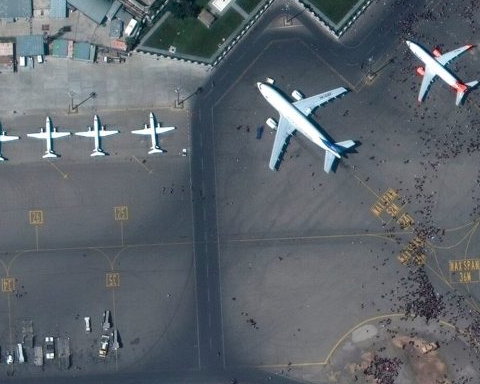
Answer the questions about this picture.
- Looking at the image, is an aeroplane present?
Yes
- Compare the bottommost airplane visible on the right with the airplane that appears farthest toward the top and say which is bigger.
the bottommost airplane visible on the right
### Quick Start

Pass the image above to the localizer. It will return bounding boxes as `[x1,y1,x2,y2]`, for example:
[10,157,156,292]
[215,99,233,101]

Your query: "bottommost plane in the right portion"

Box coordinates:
[258,83,351,170]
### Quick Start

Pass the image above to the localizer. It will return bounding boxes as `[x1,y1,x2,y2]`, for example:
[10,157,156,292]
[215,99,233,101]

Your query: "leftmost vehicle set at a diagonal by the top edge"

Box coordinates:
[124,19,137,34]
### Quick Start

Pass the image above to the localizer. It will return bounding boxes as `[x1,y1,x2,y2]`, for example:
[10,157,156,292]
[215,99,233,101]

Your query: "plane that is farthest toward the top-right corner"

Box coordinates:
[406,42,477,103]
